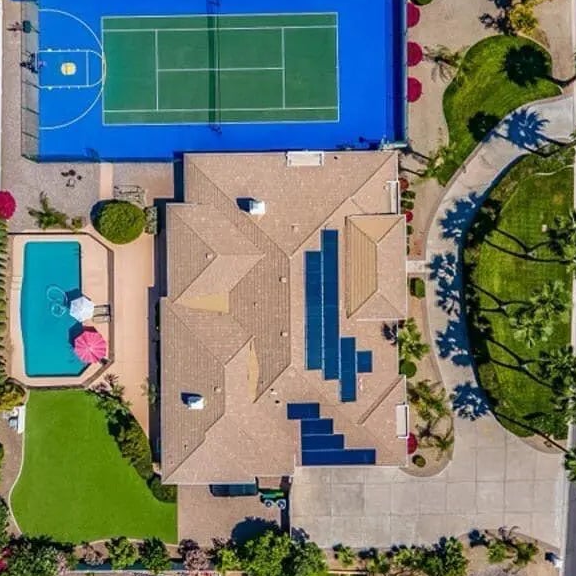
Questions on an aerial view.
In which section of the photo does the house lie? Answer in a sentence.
The house is in the center part of the image.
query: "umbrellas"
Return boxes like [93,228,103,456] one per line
[75,330,107,362]
[70,297,94,322]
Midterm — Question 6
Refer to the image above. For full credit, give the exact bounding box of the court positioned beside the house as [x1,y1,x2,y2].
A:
[39,0,402,161]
